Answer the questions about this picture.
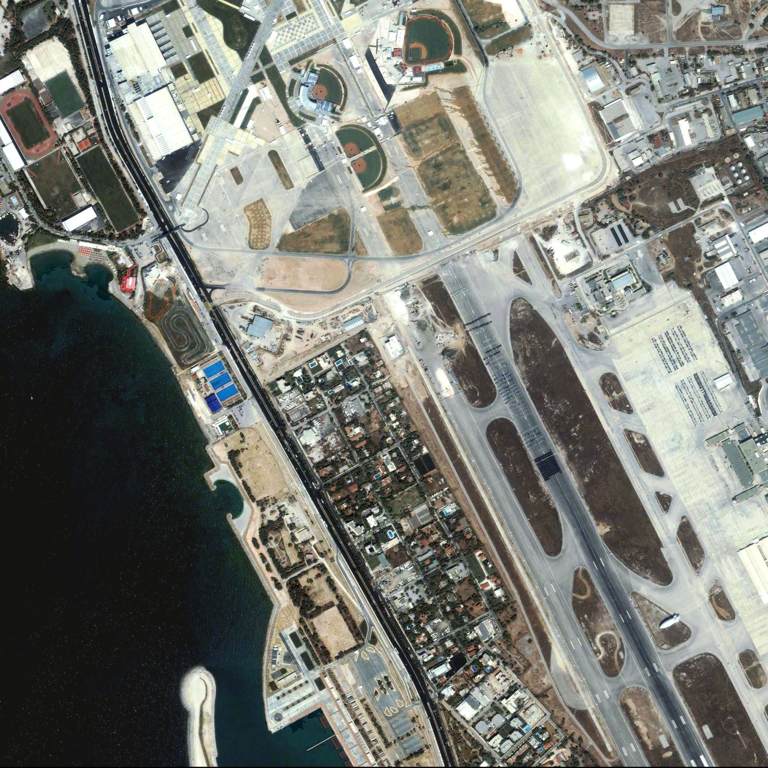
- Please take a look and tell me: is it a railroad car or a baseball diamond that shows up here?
baseball diamond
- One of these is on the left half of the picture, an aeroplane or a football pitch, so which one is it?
football pitch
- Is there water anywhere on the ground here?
Yes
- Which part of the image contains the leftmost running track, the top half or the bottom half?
top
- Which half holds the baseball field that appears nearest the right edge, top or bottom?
top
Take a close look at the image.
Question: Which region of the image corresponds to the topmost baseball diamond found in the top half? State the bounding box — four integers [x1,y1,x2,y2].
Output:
[404,15,455,67]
